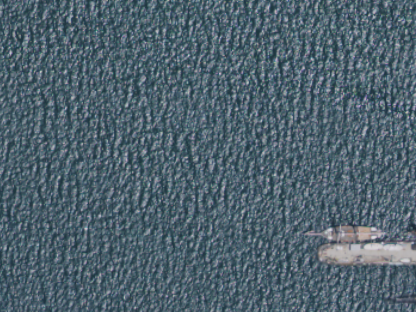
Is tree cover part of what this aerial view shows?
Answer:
No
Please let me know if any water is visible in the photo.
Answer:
Yes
